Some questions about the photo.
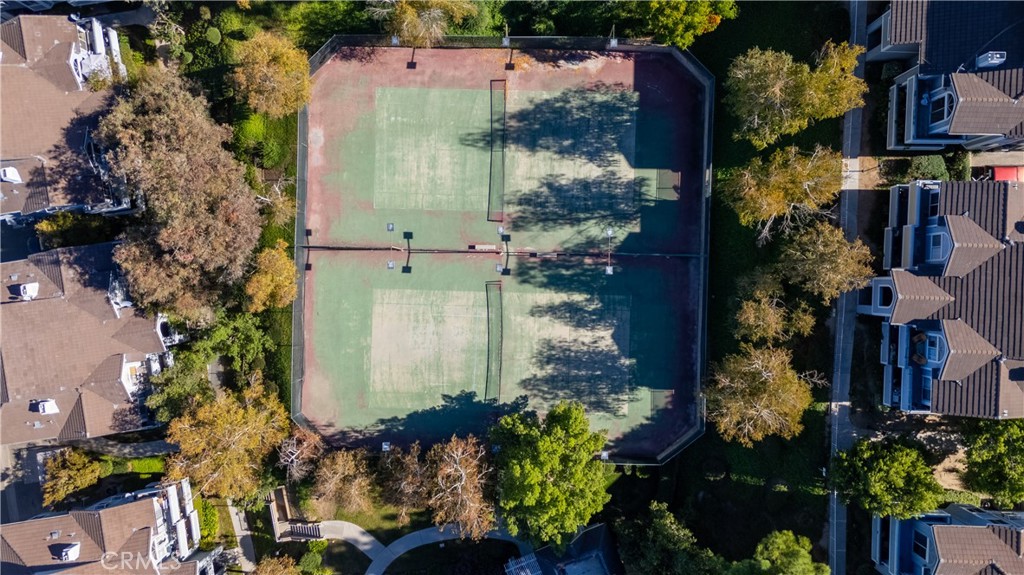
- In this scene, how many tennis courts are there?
2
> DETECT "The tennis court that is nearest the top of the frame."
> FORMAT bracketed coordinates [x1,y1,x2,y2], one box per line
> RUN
[304,46,705,255]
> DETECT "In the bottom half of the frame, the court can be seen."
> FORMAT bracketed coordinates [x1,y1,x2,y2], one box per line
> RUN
[301,247,701,458]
